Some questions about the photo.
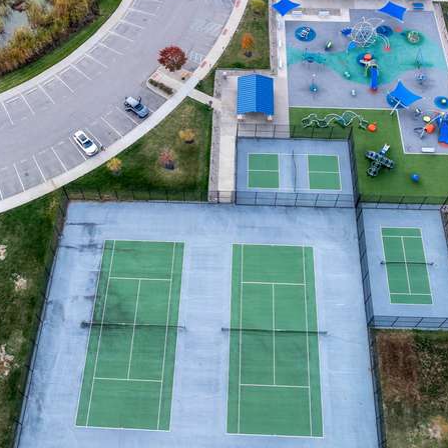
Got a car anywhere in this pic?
Yes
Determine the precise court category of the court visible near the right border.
tennis court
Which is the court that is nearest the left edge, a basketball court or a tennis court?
tennis court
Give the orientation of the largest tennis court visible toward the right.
vertically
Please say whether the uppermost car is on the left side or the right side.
left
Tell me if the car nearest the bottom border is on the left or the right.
left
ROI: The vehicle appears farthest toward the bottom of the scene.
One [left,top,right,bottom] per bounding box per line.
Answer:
[74,130,100,158]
